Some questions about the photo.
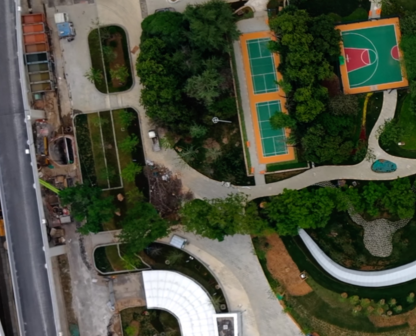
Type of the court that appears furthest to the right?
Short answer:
basketball court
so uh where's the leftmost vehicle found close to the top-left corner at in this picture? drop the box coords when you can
[51,12,70,40]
